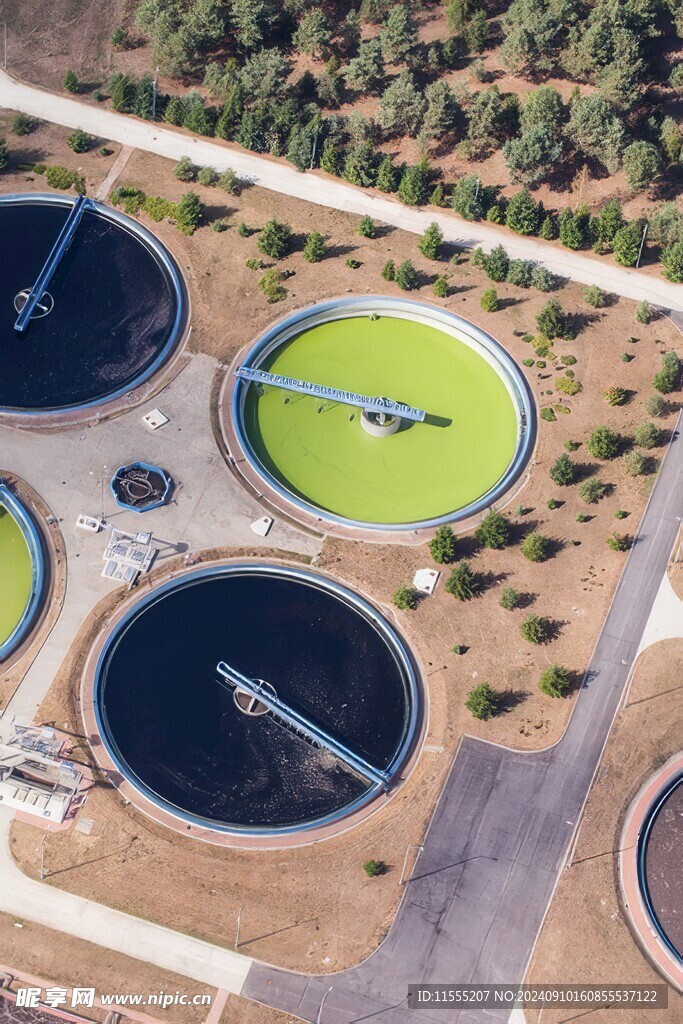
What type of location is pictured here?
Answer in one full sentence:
This looks like an industrial area.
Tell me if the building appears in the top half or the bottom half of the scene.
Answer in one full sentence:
It is in the bottom half that the building appears.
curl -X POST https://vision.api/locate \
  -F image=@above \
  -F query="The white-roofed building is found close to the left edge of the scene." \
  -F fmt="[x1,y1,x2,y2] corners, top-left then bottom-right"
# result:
[0,754,90,827]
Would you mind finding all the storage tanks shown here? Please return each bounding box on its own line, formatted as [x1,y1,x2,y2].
[79,560,430,853]
[0,478,54,675]
[0,191,192,431]
[218,296,535,543]
[618,748,683,992]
